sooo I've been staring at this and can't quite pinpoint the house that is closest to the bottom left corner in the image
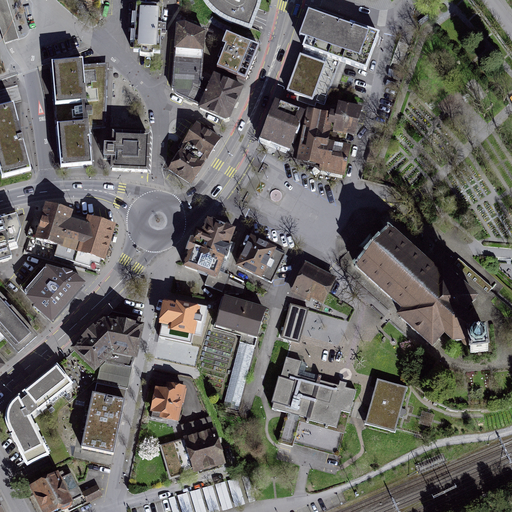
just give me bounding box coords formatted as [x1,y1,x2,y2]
[30,470,86,512]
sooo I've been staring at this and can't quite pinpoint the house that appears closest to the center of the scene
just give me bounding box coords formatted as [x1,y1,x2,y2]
[236,234,284,284]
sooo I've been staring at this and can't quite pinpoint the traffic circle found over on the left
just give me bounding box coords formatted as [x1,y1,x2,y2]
[126,190,188,253]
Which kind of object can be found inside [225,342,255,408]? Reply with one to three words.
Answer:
shed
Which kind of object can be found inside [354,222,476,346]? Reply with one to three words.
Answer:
church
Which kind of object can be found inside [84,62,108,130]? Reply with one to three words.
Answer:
building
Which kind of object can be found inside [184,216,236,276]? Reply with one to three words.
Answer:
house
